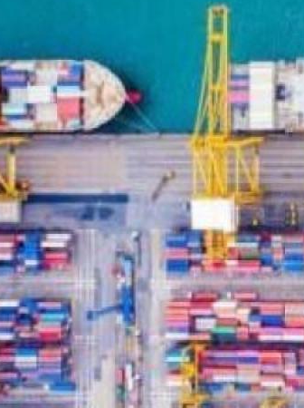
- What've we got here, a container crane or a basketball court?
container crane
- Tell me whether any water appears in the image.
Yes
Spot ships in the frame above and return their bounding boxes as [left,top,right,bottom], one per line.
[229,62,304,129]
[0,61,140,129]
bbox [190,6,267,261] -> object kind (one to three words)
container crane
